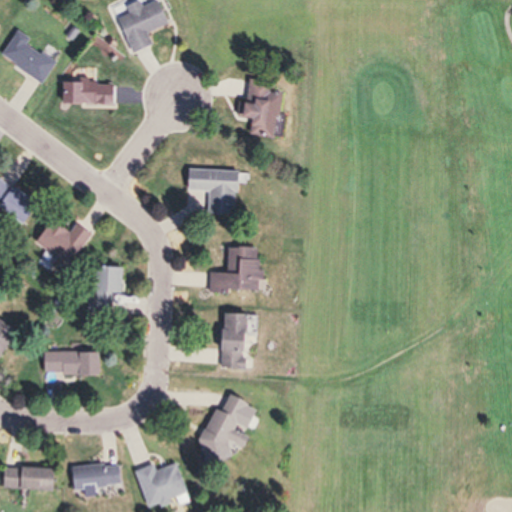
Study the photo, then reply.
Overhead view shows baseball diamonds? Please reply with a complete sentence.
No, no baseball diamond is visible in the scene.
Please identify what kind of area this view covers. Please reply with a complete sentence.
The picture captures a golf course.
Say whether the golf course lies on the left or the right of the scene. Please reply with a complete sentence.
It is on the right.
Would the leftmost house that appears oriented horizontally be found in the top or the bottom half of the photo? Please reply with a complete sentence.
You can find the leftmost house that appears oriented horizontally in the bottom half.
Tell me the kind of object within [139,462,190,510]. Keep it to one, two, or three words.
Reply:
house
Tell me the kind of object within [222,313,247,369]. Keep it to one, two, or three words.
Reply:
house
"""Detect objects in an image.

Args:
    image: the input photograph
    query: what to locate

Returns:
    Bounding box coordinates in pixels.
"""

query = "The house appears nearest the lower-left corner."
[4,468,54,491]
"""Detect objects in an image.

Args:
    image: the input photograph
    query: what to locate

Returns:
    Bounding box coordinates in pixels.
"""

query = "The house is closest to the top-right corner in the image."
[244,78,286,138]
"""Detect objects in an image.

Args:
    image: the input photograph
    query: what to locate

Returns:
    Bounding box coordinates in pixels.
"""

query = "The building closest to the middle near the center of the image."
[209,248,265,292]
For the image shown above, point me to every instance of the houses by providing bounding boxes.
[0,176,34,218]
[222,313,247,369]
[72,465,122,497]
[209,248,265,292]
[44,352,101,376]
[62,67,112,104]
[196,395,259,460]
[4,468,54,491]
[96,265,124,298]
[117,0,168,51]
[2,30,55,82]
[37,223,90,253]
[139,462,190,510]
[244,78,286,138]
[188,168,250,213]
